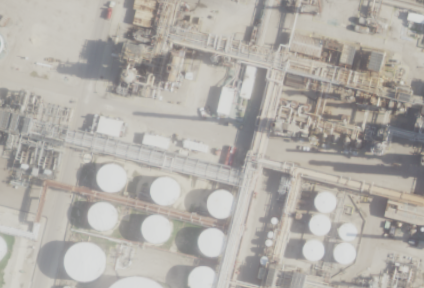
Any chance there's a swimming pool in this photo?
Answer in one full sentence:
No, the scene contains no swimming pool.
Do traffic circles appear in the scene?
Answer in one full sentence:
No, the photo shows no traffic circle.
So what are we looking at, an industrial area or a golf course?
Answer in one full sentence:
The picture captures an industrial area.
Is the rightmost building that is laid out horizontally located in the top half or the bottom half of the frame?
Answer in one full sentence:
You can find the rightmost building that is laid out horizontally in the bottom half.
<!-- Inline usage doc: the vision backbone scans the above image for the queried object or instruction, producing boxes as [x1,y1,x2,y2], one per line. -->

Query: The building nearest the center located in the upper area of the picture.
[218,86,236,116]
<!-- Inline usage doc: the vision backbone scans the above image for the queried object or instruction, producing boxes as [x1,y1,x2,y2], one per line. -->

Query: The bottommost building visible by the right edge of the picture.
[386,201,424,224]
